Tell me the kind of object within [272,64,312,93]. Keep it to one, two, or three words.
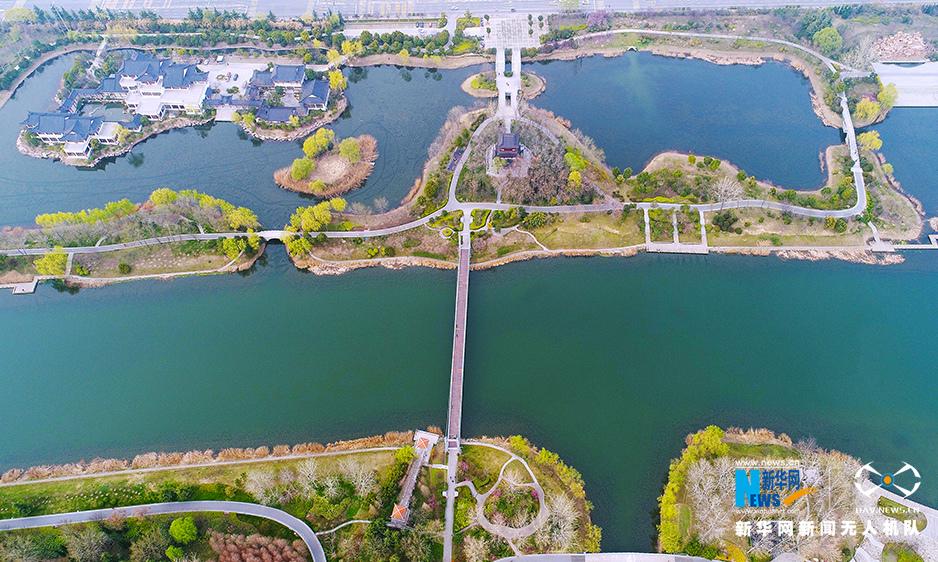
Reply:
building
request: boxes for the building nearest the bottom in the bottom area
[388,500,412,526]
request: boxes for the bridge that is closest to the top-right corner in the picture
[840,92,862,166]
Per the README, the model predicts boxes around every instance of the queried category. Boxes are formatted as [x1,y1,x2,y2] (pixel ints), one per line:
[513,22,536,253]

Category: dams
[871,60,938,111]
